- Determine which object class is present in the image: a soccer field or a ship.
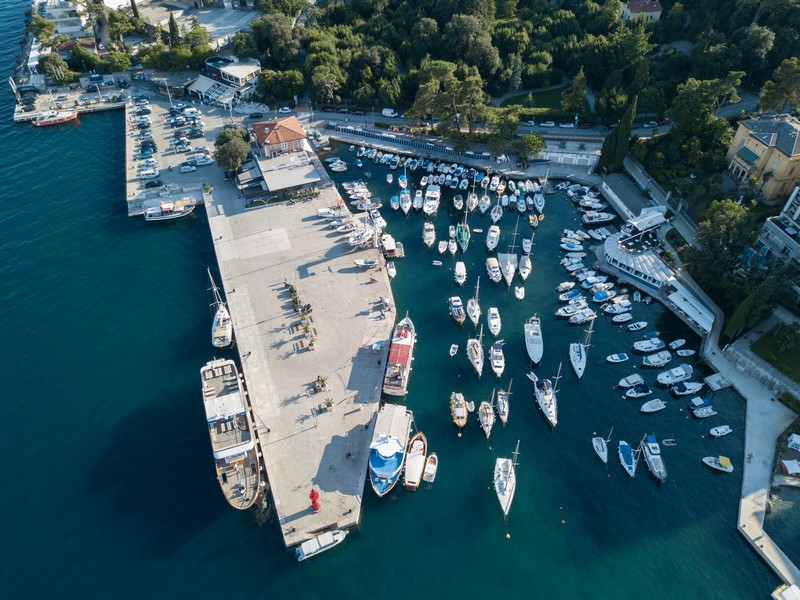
ship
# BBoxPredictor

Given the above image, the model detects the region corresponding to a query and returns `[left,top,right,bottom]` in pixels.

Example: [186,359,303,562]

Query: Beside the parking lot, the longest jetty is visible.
[203,123,397,547]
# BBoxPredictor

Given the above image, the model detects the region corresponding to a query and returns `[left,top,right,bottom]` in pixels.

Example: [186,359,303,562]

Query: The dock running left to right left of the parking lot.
[14,87,127,125]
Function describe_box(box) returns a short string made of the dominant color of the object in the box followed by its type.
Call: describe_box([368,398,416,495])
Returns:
white boat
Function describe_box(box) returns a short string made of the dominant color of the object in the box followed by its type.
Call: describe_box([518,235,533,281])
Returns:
white boat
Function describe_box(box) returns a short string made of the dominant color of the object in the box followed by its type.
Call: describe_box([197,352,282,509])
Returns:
white ship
